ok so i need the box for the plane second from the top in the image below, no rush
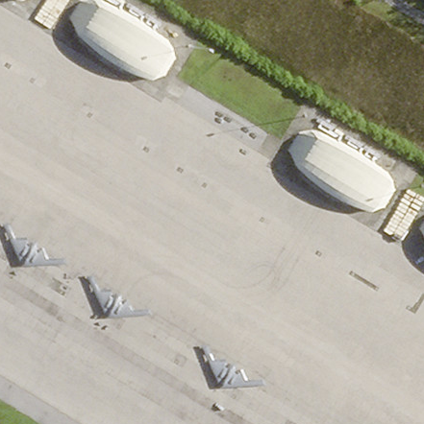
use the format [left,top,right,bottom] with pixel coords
[88,279,152,318]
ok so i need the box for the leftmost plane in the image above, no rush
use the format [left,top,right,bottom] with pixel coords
[3,226,67,266]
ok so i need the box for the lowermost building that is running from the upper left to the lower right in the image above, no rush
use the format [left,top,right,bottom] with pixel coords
[287,129,395,211]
